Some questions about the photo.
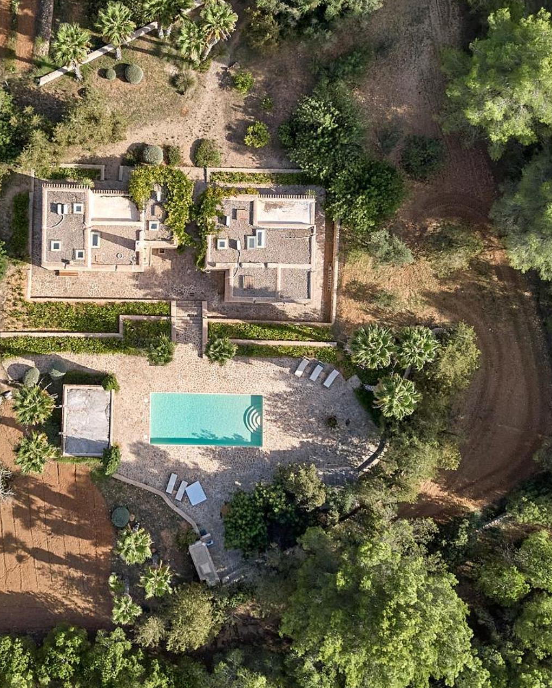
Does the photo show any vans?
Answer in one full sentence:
No, I can't see a single van in this photo.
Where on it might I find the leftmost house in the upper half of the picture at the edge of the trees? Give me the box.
[42,183,178,274]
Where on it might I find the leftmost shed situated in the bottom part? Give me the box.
[57,384,113,455]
